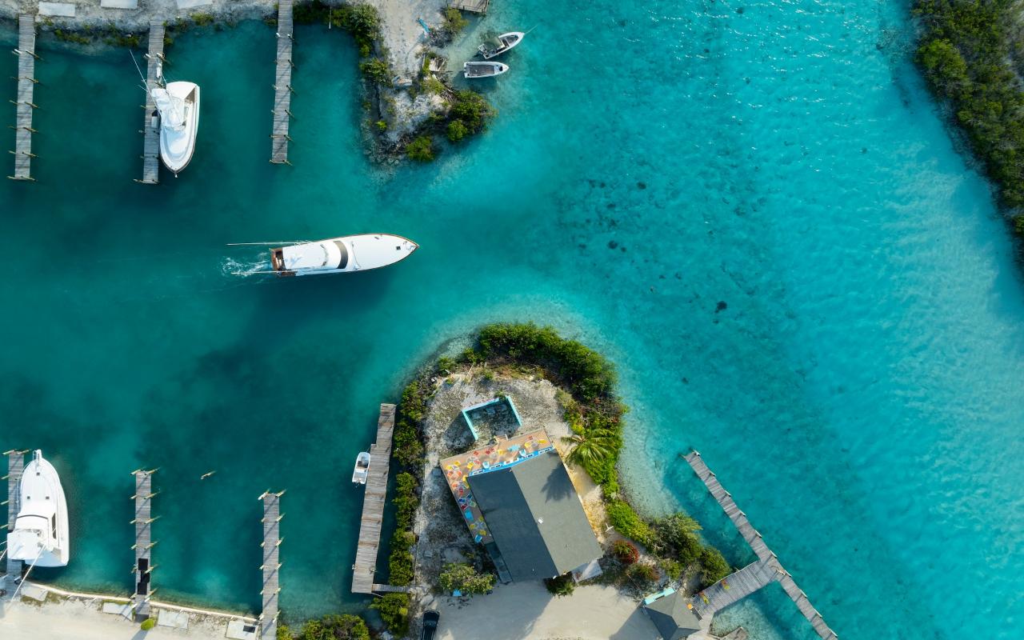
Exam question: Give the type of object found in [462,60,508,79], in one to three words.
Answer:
boat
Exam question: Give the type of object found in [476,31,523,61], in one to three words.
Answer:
boat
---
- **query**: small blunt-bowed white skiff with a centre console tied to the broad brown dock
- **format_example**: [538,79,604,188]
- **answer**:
[352,450,370,487]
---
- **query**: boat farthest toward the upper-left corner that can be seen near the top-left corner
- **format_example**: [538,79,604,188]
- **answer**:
[129,49,204,180]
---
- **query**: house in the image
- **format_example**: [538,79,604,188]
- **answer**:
[440,428,604,582]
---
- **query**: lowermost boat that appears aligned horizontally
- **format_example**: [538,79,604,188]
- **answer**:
[233,233,418,280]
